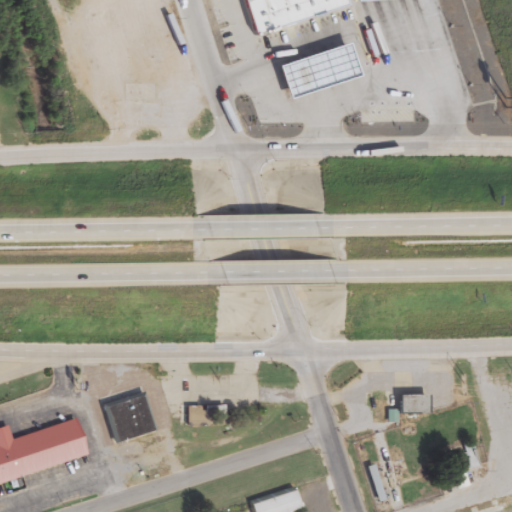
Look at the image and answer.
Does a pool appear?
No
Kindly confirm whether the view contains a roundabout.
No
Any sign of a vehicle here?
Yes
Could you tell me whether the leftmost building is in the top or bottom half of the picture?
bottom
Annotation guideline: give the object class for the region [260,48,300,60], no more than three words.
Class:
vehicle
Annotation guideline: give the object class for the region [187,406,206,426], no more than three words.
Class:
house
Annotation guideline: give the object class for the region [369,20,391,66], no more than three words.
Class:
truck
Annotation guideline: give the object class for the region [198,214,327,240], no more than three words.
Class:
bridge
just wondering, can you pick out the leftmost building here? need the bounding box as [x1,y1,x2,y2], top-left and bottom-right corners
[0,418,88,482]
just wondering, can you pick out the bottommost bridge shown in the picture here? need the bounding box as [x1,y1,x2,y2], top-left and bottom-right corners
[210,260,344,284]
